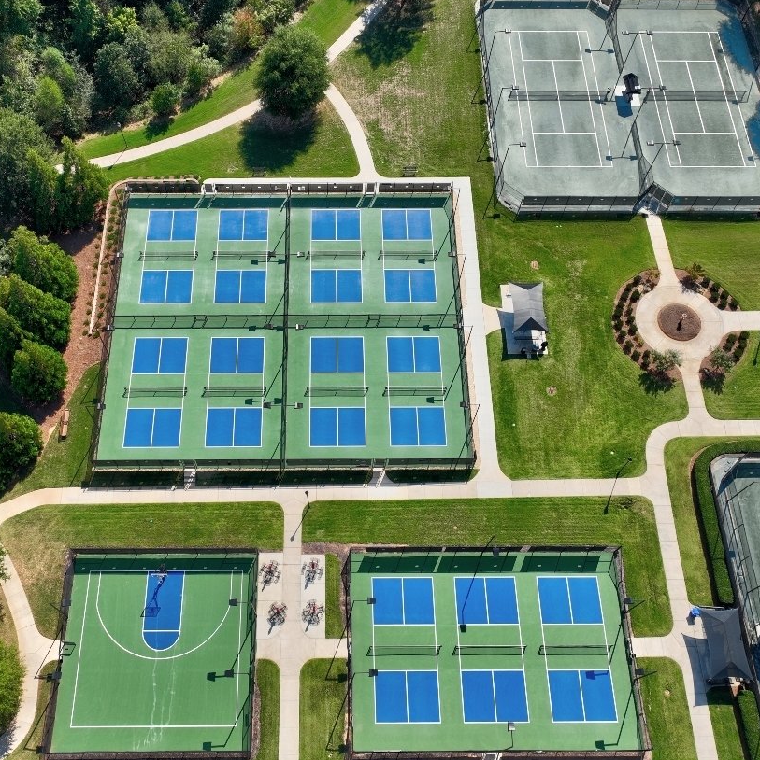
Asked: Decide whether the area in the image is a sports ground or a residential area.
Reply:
sports ground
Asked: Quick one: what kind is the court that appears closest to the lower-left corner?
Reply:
basketball court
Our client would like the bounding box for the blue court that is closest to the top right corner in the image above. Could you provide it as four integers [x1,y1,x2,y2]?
[381,208,438,302]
